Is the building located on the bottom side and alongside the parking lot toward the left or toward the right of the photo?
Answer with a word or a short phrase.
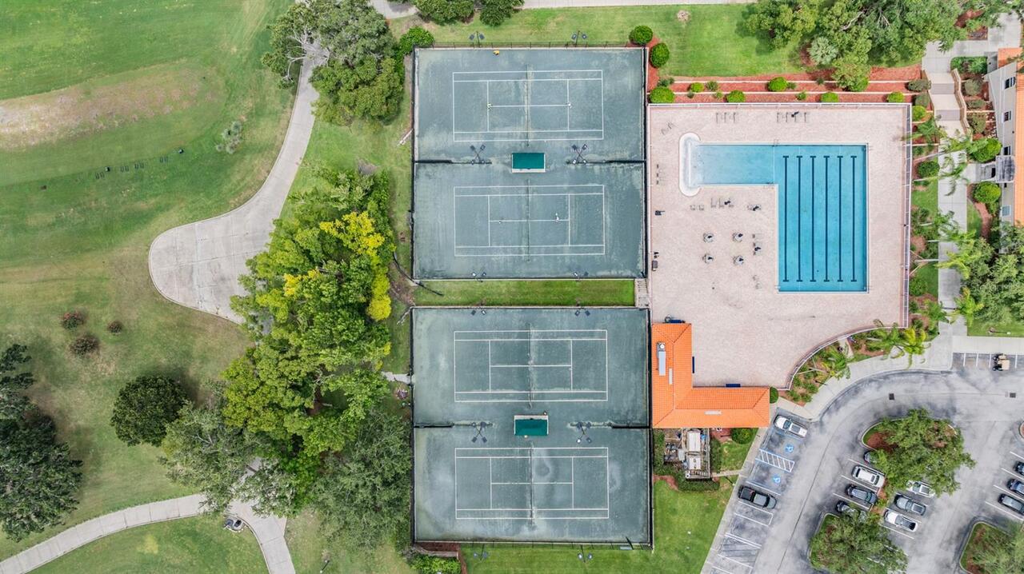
right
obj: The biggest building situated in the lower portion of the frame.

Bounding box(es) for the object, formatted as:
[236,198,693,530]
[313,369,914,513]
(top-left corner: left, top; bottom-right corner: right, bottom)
[652,319,770,429]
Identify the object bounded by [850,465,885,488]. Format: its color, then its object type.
white car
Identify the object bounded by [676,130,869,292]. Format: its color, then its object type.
blue swimming pool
